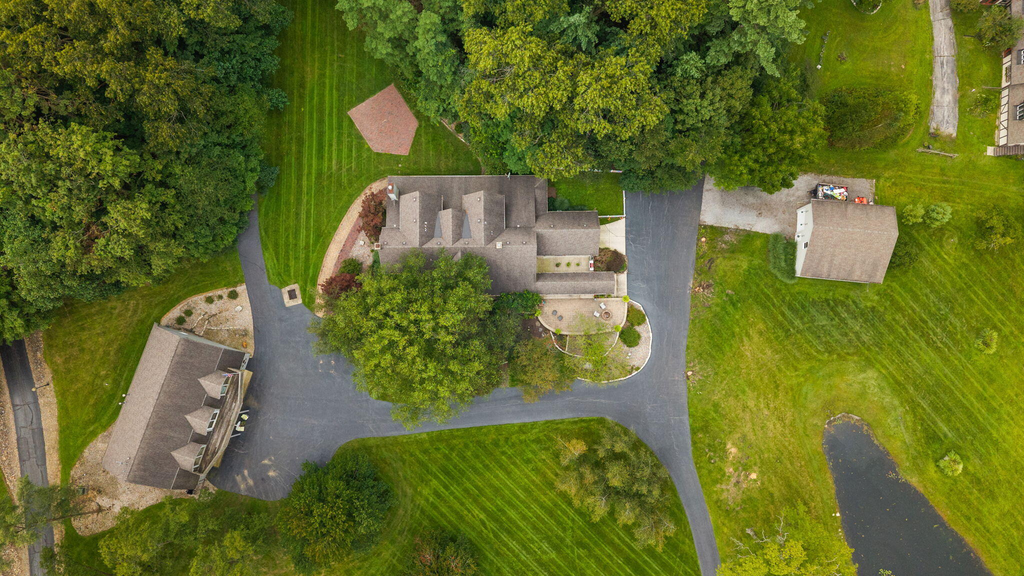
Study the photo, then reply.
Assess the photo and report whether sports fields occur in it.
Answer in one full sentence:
No, no sports field is visible in the view.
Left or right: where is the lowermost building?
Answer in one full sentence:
The lowermost building appears in the left half of the scene.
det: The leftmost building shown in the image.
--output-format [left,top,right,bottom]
[104,323,254,489]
